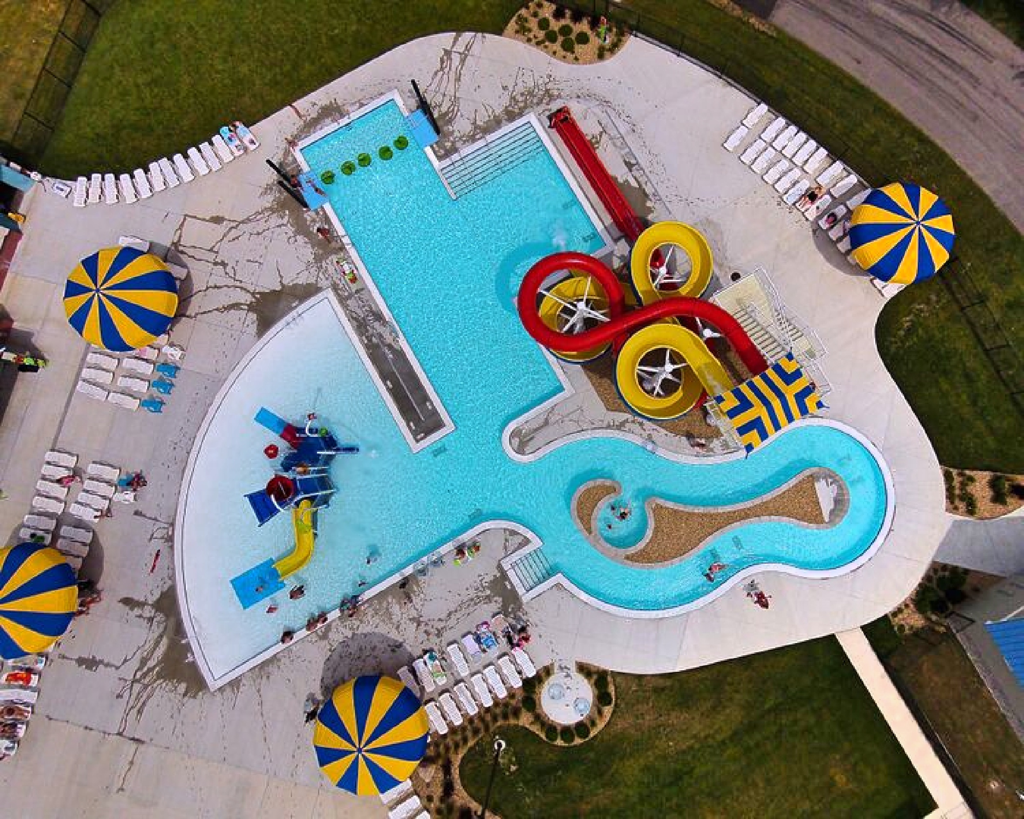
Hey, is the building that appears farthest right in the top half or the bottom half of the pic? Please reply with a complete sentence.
It is in the bottom half that the building that appears farthest right appears.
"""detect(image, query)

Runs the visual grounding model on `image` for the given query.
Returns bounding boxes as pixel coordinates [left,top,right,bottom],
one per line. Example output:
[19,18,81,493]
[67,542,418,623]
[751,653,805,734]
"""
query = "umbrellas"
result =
[0,542,79,657]
[846,186,954,285]
[314,673,432,794]
[68,240,180,358]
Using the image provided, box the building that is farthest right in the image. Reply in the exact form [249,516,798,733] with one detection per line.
[961,569,1024,696]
